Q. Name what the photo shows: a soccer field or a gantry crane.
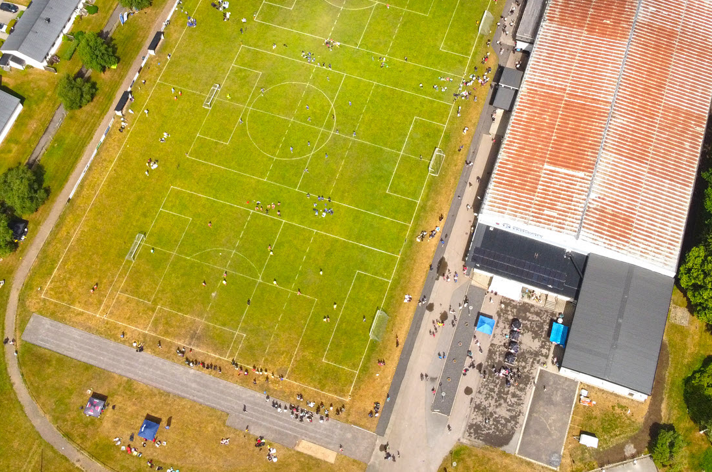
soccer field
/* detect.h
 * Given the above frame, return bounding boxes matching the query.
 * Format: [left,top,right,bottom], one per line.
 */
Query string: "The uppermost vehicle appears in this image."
[0,2,21,14]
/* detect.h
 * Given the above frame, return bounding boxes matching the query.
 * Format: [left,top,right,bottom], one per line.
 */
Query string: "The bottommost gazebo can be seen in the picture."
[138,421,162,443]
